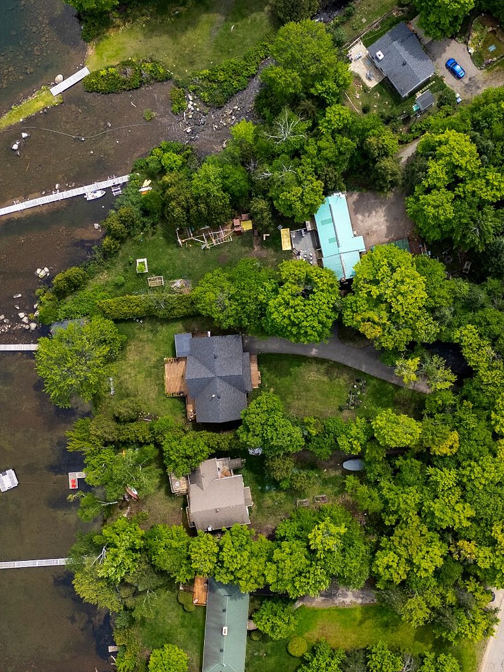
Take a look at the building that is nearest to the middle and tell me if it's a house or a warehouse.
house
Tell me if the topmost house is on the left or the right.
right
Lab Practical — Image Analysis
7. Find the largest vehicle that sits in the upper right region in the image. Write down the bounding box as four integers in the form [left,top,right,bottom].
[446,57,465,80]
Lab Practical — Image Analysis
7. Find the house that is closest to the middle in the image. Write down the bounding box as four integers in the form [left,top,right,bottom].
[164,330,260,422]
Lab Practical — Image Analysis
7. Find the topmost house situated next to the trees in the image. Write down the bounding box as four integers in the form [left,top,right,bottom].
[347,22,436,97]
